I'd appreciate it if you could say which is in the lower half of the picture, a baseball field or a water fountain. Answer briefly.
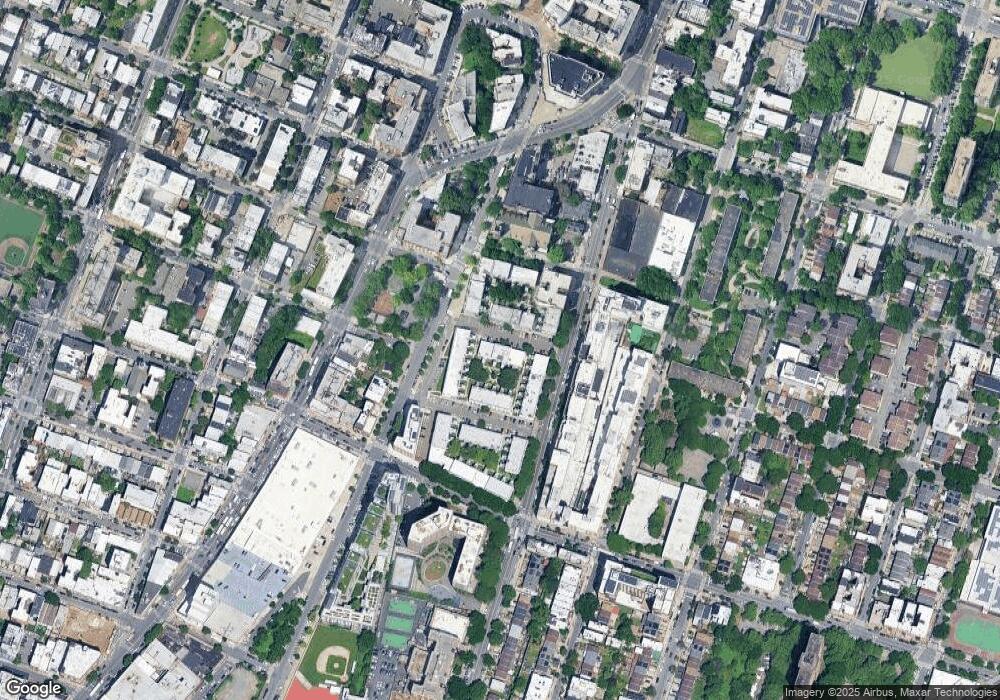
baseball field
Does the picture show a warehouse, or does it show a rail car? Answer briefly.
warehouse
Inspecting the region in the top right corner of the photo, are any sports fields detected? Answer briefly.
Yes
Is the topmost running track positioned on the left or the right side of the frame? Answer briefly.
right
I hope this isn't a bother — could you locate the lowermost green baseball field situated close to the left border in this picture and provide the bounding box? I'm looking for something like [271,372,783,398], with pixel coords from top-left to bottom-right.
[0,197,45,268]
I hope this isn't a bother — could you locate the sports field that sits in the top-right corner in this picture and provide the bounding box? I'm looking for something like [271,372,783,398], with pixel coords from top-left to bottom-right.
[875,32,944,101]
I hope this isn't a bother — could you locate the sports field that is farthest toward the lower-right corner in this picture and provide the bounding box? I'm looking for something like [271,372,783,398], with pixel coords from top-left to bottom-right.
[956,612,1000,654]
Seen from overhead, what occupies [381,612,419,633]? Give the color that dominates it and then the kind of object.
green tennis court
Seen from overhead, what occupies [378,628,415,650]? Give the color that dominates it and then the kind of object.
green tennis court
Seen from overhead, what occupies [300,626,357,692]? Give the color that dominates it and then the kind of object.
green baseball field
